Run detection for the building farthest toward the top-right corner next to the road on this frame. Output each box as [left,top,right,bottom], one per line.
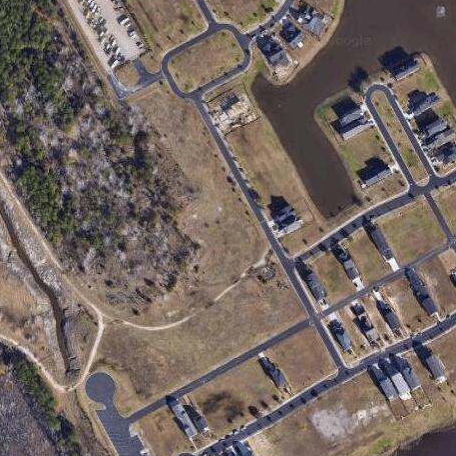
[385,57,423,83]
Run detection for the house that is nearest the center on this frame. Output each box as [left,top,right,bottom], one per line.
[275,209,308,232]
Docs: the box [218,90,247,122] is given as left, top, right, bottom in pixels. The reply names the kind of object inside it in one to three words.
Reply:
house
